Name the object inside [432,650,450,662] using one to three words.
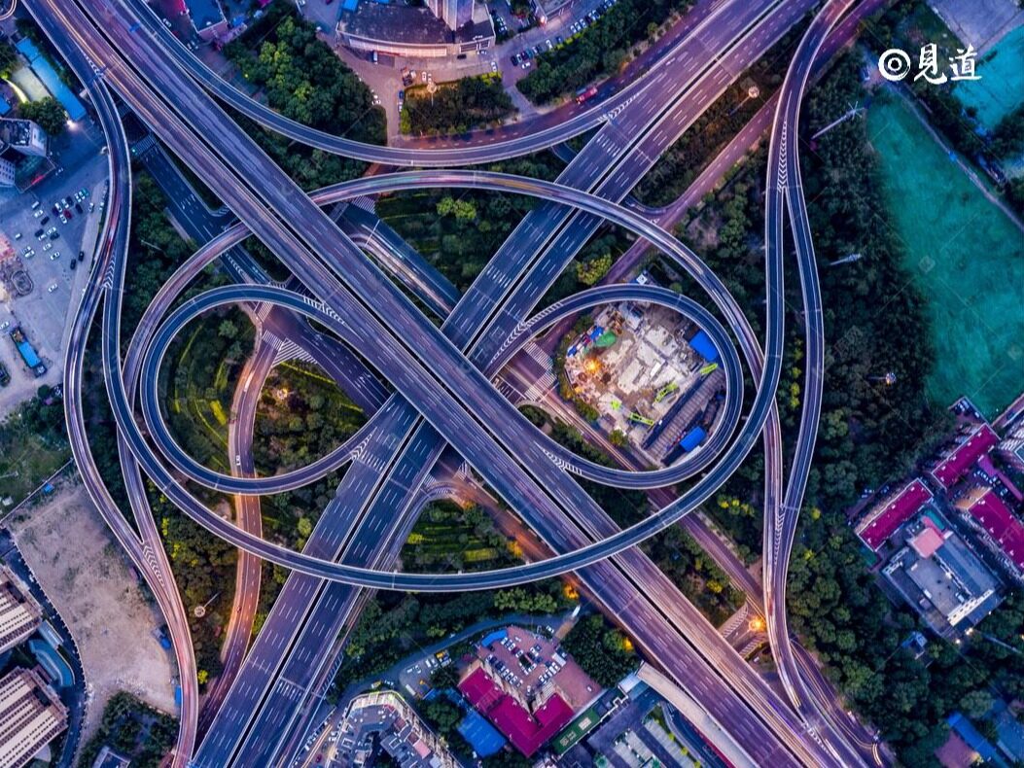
vehicle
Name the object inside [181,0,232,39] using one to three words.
building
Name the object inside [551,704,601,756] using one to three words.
building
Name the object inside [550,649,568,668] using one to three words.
vehicle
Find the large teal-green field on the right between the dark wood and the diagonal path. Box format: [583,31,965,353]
[862,89,1024,419]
